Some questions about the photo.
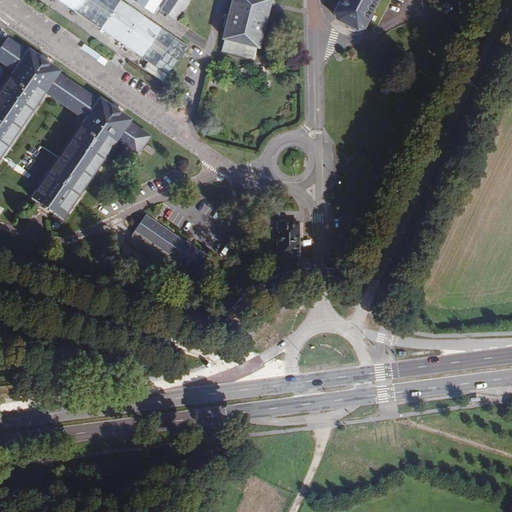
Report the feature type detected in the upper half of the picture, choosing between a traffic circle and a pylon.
traffic circle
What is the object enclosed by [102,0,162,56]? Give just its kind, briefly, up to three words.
building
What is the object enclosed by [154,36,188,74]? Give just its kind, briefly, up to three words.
greenhouse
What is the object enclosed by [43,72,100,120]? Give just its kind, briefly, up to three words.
building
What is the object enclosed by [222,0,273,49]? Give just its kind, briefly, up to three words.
house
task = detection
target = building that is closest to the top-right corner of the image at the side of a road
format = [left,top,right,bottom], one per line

[335,0,382,30]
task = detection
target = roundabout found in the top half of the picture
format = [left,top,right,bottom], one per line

[259,126,325,214]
